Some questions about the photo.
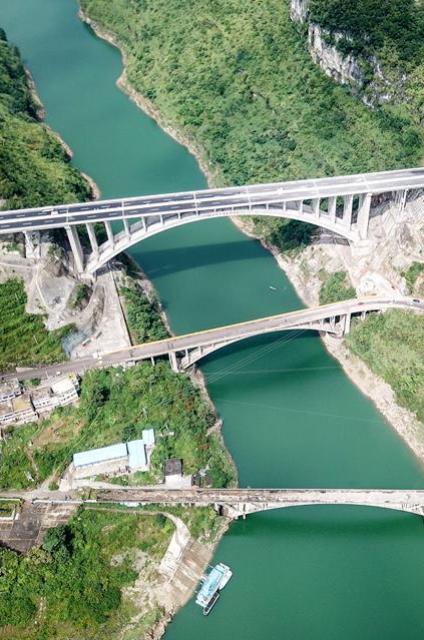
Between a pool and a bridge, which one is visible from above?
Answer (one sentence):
The one in the frame is a bridge.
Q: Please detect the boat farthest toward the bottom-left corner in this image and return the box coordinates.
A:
[202,593,217,614]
